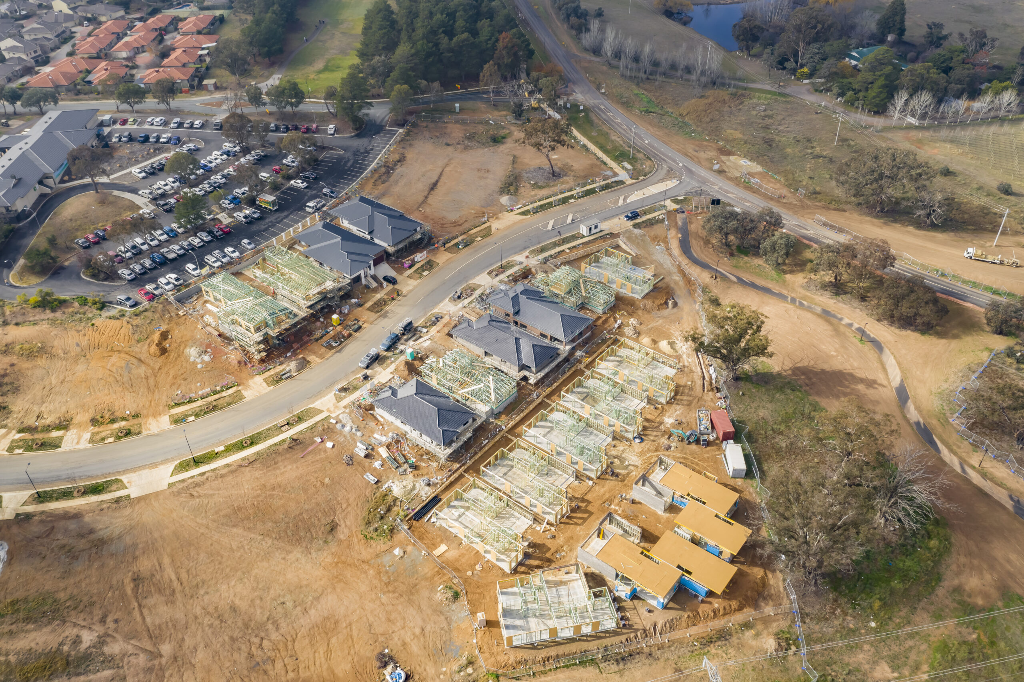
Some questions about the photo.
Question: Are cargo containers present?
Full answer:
Yes, a cargo container can be made out from above.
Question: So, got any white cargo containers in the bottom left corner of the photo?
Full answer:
No, looking in the bottom left corner of the photo, there is no white cargo container.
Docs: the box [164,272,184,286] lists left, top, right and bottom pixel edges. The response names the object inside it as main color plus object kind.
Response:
white vehicle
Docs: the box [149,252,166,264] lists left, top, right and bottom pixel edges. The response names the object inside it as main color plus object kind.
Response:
blue vehicle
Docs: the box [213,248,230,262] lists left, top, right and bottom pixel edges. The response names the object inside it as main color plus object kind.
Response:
gray car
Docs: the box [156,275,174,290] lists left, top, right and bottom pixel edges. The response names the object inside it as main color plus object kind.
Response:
white car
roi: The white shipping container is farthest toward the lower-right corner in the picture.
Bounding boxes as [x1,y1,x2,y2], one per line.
[721,444,747,480]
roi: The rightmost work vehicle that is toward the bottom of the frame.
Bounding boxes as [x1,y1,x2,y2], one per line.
[670,426,699,444]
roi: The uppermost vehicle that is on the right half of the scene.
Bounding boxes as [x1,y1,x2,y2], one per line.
[623,209,641,221]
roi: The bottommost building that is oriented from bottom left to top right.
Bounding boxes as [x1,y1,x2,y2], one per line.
[576,526,615,563]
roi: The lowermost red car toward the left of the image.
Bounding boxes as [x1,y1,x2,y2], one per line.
[137,288,156,301]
